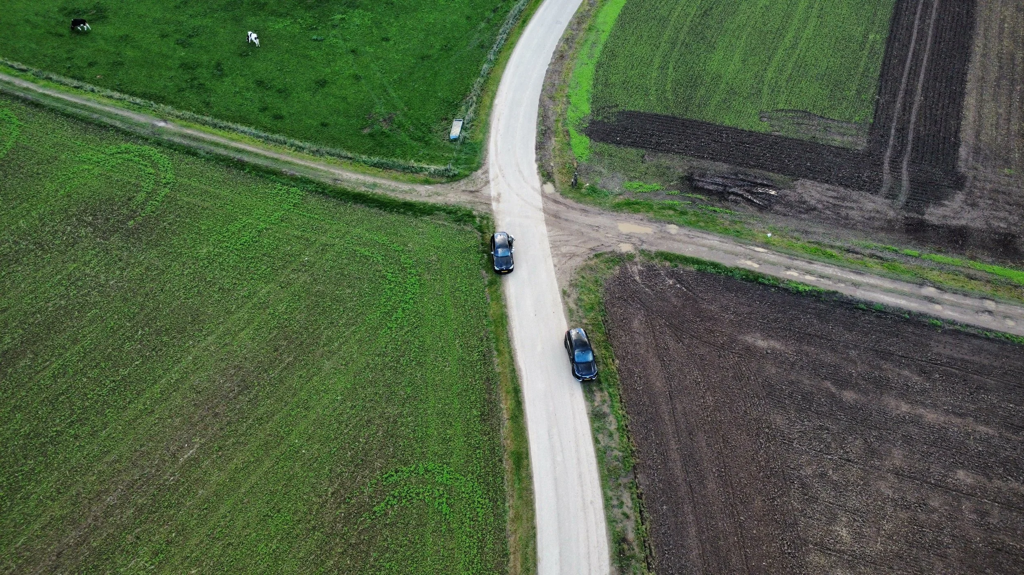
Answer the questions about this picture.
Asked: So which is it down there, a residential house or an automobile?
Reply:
automobile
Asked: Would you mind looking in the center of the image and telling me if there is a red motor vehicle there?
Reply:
No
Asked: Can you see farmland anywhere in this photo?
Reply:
Yes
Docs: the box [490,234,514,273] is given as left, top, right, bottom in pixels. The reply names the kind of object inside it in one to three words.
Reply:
car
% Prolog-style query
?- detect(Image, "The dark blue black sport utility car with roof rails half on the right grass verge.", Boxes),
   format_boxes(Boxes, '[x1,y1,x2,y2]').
[565,327,598,380]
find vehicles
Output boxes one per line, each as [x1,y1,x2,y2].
[490,234,514,273]
[565,327,598,380]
